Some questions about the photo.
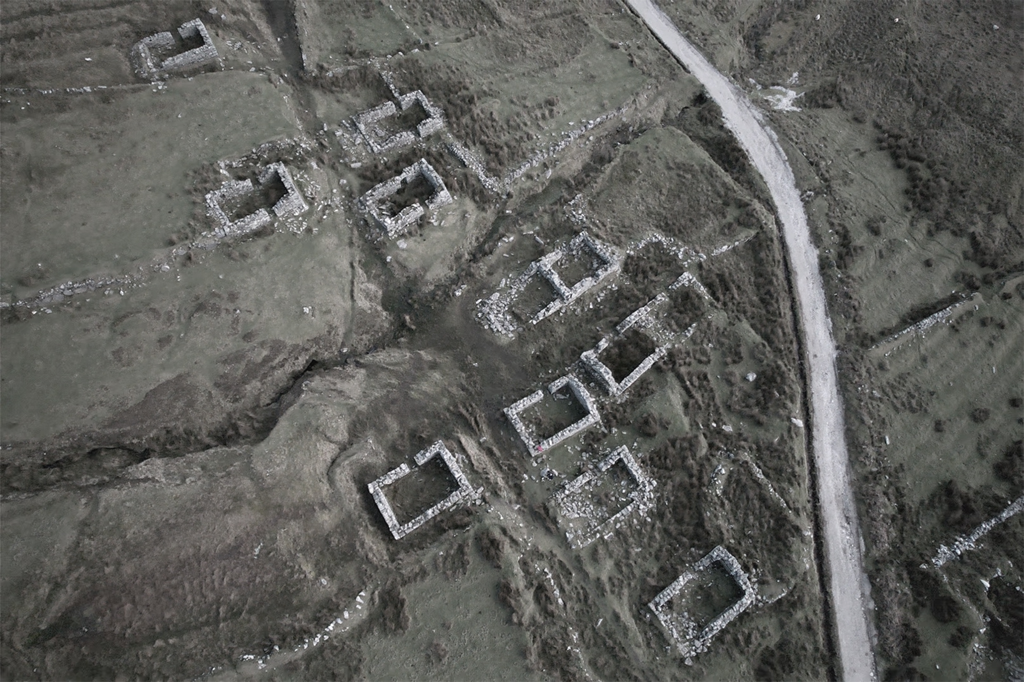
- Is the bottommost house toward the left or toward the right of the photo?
right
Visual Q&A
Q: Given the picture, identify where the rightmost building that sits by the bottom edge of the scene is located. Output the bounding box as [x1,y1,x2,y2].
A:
[640,543,766,660]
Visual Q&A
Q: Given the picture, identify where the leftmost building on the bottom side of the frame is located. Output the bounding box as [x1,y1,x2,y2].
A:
[366,439,483,544]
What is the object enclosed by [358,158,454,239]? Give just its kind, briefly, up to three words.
house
